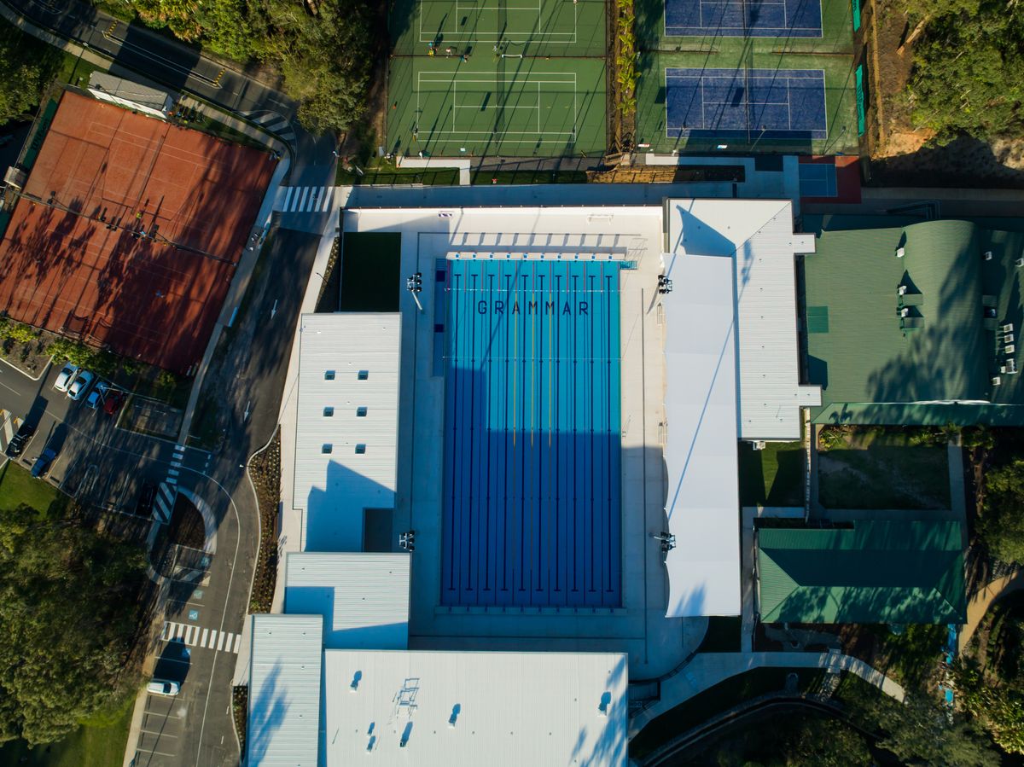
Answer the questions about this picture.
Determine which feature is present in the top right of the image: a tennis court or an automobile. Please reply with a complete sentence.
What appears in the top right of the image is a tennis court.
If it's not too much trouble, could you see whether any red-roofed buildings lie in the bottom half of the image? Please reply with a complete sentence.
No, no red-roofed building appears in the bottom half of the image.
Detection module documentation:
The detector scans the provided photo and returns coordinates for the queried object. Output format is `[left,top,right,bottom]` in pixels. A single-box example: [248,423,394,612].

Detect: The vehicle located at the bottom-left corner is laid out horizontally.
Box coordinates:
[142,680,179,699]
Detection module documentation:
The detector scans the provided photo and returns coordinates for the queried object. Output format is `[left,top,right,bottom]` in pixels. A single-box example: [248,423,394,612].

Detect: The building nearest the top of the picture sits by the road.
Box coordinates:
[87,70,177,120]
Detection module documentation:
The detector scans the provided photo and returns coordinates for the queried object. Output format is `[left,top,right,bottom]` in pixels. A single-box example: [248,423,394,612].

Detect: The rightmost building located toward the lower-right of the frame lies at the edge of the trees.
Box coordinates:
[756,520,968,625]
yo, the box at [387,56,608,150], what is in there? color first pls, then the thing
green tennis court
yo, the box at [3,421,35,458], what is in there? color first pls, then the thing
black car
